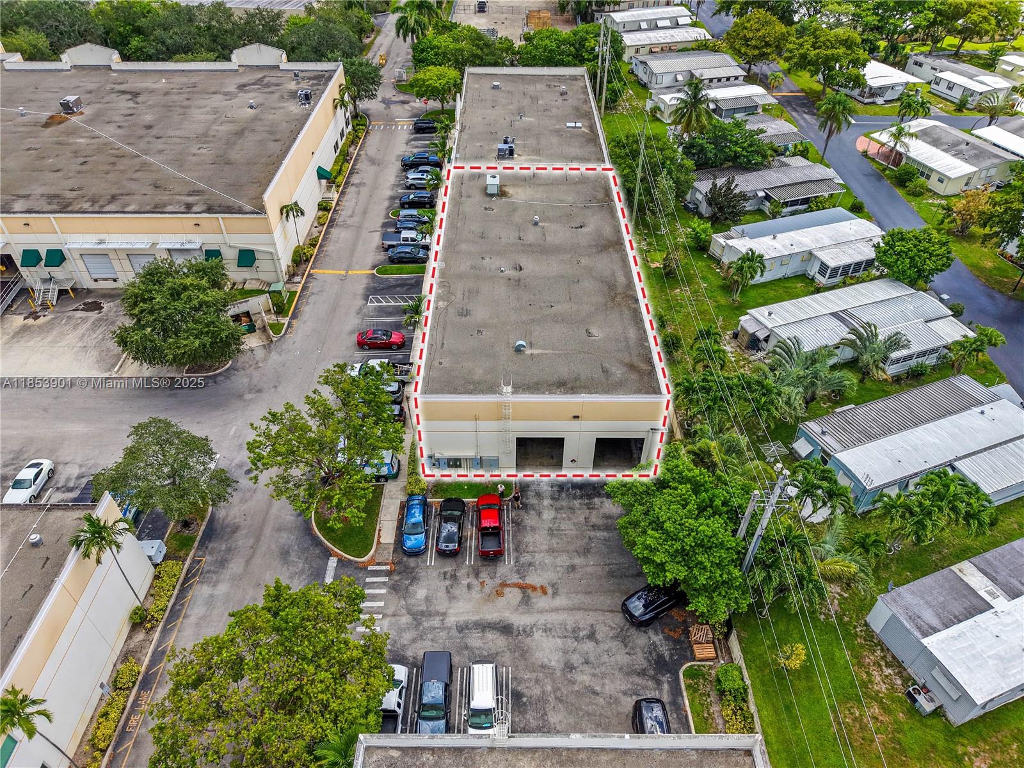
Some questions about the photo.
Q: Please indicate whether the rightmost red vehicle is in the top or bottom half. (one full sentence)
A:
The rightmost red vehicle is in the bottom half of the image.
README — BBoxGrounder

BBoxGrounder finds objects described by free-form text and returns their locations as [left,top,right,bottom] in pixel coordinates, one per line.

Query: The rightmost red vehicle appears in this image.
[474,491,506,562]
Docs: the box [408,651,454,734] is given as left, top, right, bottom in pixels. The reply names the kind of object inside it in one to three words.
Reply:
vehicle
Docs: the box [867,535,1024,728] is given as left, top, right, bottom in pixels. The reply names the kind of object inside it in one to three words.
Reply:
house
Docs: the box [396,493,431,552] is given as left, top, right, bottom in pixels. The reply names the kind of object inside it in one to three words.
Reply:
car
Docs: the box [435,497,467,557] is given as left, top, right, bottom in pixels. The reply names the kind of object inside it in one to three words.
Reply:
car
